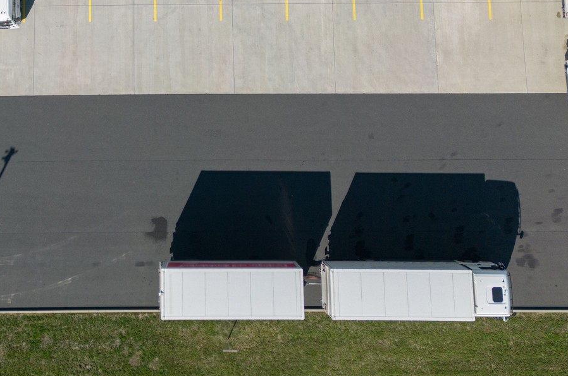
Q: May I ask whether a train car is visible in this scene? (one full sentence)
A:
No, the scene contains no train car.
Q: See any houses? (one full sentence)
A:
No, this view has no house in it.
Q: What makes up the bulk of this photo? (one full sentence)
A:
Most of the picture is covered by paved ground.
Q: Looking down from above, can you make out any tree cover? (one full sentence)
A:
No, the scene doesn't show any tree cover.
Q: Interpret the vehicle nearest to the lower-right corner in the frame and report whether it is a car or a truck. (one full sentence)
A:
From above, the vehicle nearest to the lower-right corner can be identified as a truck.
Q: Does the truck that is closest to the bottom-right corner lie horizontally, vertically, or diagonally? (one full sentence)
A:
I'd say the truck that is closest to the bottom-right corner is aligned horizontally in the picture.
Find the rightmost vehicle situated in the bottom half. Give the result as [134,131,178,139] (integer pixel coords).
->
[319,256,505,320]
